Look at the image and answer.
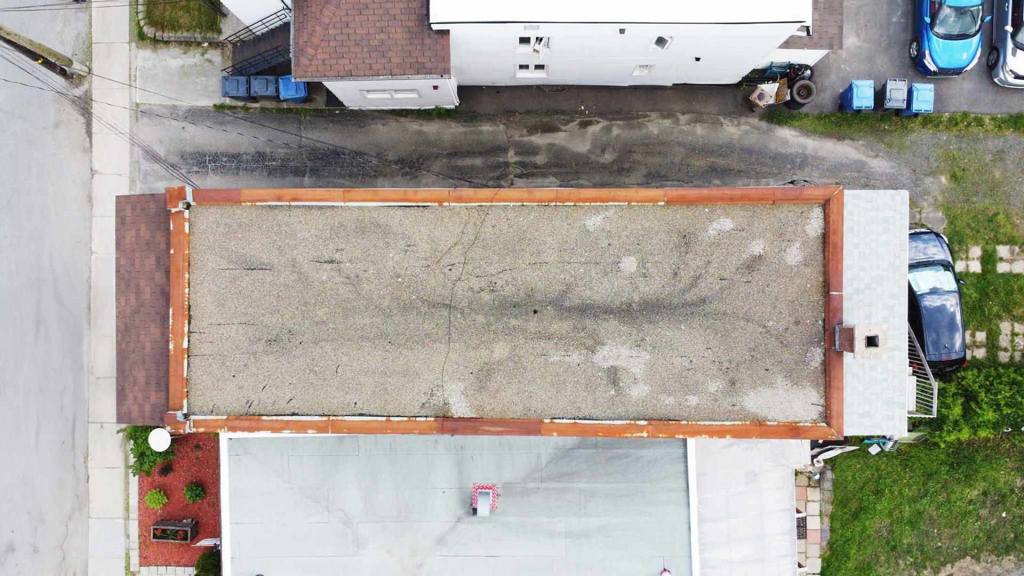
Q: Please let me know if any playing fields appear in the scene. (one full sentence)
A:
No, I can't see a single playing field in this photo.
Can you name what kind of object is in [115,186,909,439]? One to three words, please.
building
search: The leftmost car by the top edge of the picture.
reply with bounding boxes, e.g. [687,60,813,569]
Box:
[910,0,995,77]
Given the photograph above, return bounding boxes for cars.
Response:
[908,230,971,375]
[986,0,1024,91]
[910,0,995,77]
